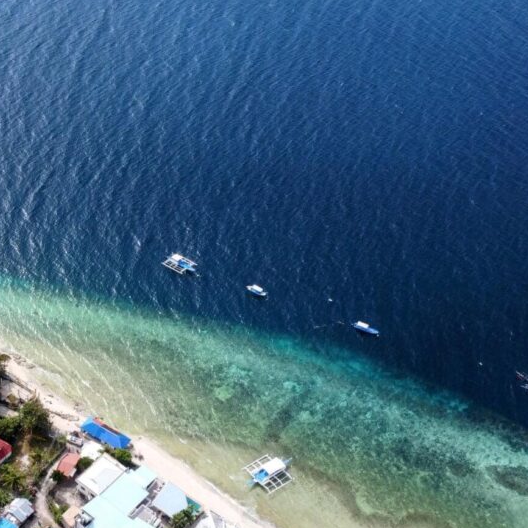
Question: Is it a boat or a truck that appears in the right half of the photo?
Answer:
boat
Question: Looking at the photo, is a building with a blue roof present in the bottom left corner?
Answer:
Yes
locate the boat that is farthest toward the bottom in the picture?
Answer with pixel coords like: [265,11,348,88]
[243,452,295,493]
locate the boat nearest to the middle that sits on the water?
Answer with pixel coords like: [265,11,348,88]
[245,283,267,297]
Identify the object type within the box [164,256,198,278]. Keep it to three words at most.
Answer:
boat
